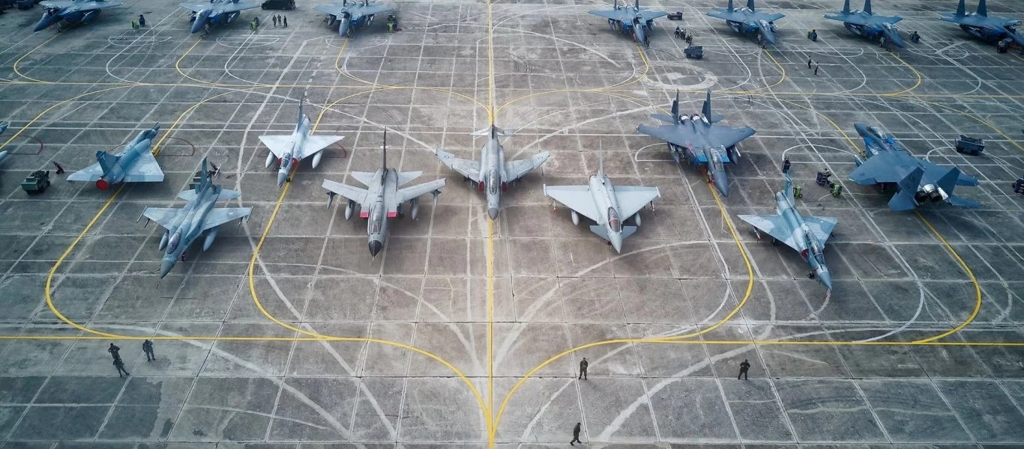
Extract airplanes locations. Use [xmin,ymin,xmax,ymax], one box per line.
[706,0,784,45]
[825,0,904,48]
[637,87,755,198]
[848,125,986,215]
[738,173,835,296]
[435,125,548,220]
[933,0,1024,52]
[180,0,265,35]
[312,0,395,39]
[136,157,254,283]
[587,0,666,45]
[63,125,164,198]
[259,98,345,191]
[544,143,659,254]
[321,129,445,261]
[33,0,127,33]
